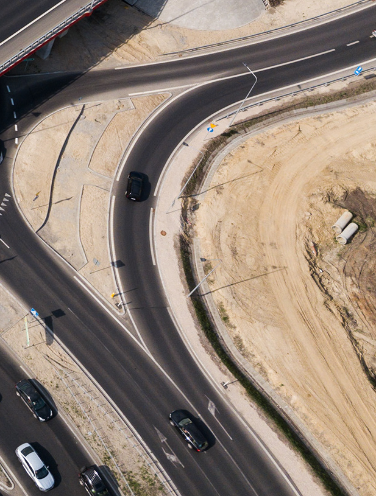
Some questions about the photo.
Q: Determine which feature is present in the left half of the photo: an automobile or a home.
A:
automobile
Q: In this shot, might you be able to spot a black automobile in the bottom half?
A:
Yes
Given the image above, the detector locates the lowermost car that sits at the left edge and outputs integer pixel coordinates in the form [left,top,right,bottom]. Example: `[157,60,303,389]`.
[13,441,56,494]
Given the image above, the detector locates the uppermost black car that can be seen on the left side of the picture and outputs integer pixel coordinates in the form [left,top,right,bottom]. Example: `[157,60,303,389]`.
[126,173,145,205]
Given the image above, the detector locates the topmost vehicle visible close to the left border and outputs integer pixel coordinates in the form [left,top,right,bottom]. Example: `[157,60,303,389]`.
[13,378,54,424]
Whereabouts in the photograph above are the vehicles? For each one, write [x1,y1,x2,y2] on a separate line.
[13,441,56,494]
[13,378,54,424]
[166,410,210,455]
[75,464,115,496]
[126,173,145,205]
